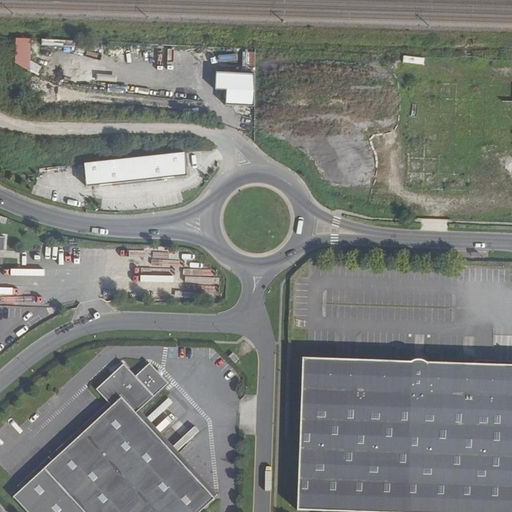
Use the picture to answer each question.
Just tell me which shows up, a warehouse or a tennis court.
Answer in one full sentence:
The one in the frame is a warehouse.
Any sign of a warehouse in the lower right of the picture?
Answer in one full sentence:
Yes, there is a warehouse in the lower right of the picture.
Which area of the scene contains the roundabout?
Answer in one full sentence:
You can find the roundabout in the center area of the picture.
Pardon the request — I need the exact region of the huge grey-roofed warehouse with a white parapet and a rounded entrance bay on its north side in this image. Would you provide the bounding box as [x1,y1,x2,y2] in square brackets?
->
[296,356,512,512]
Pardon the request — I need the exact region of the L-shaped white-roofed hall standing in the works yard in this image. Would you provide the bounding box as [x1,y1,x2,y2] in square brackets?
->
[216,71,254,106]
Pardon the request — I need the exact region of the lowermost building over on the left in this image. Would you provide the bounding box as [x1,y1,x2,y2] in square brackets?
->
[14,397,214,512]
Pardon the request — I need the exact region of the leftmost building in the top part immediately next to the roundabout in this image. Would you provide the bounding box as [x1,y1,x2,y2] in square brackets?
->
[84,152,186,188]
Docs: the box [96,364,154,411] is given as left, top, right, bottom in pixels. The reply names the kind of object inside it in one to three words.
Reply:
building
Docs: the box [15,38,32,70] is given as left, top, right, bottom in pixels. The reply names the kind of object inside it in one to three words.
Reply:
shed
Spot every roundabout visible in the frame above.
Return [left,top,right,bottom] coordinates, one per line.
[201,164,313,276]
